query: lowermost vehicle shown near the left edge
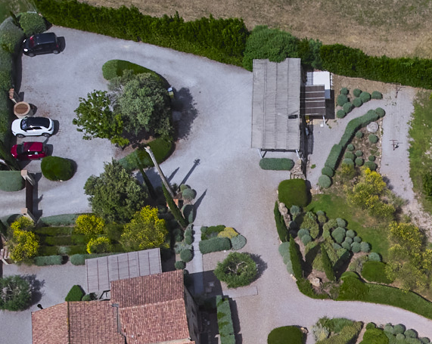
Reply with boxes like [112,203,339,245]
[11,139,50,163]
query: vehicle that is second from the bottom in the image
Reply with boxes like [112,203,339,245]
[13,115,57,139]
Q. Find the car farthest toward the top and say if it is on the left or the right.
left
